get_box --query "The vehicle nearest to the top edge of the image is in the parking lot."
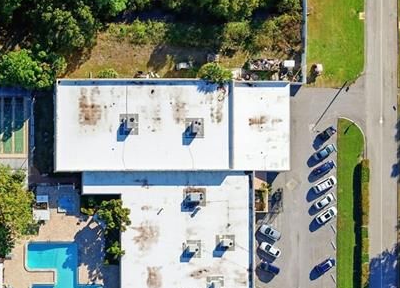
[315,124,339,143]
